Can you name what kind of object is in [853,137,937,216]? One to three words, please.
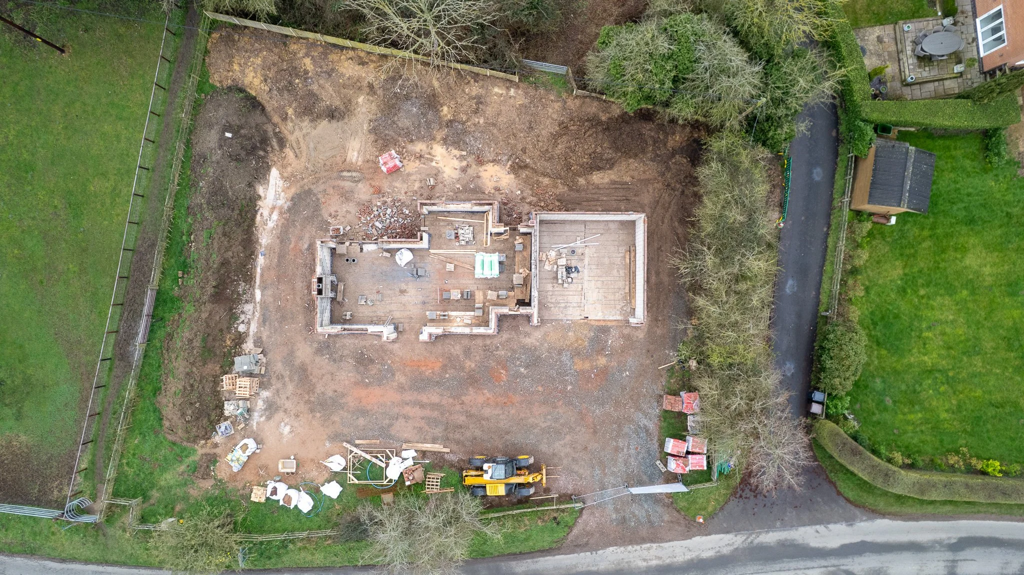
shed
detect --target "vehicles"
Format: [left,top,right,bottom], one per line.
[461,454,557,500]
